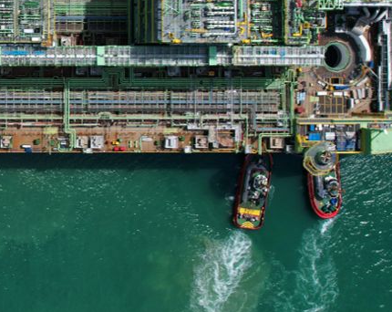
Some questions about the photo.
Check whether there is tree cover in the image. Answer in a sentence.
No, no tree cover is visible.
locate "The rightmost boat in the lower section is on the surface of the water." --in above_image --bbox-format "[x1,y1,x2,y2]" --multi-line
[302,159,343,221]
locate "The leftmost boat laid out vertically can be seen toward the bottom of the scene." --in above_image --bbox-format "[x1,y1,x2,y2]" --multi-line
[228,153,272,233]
